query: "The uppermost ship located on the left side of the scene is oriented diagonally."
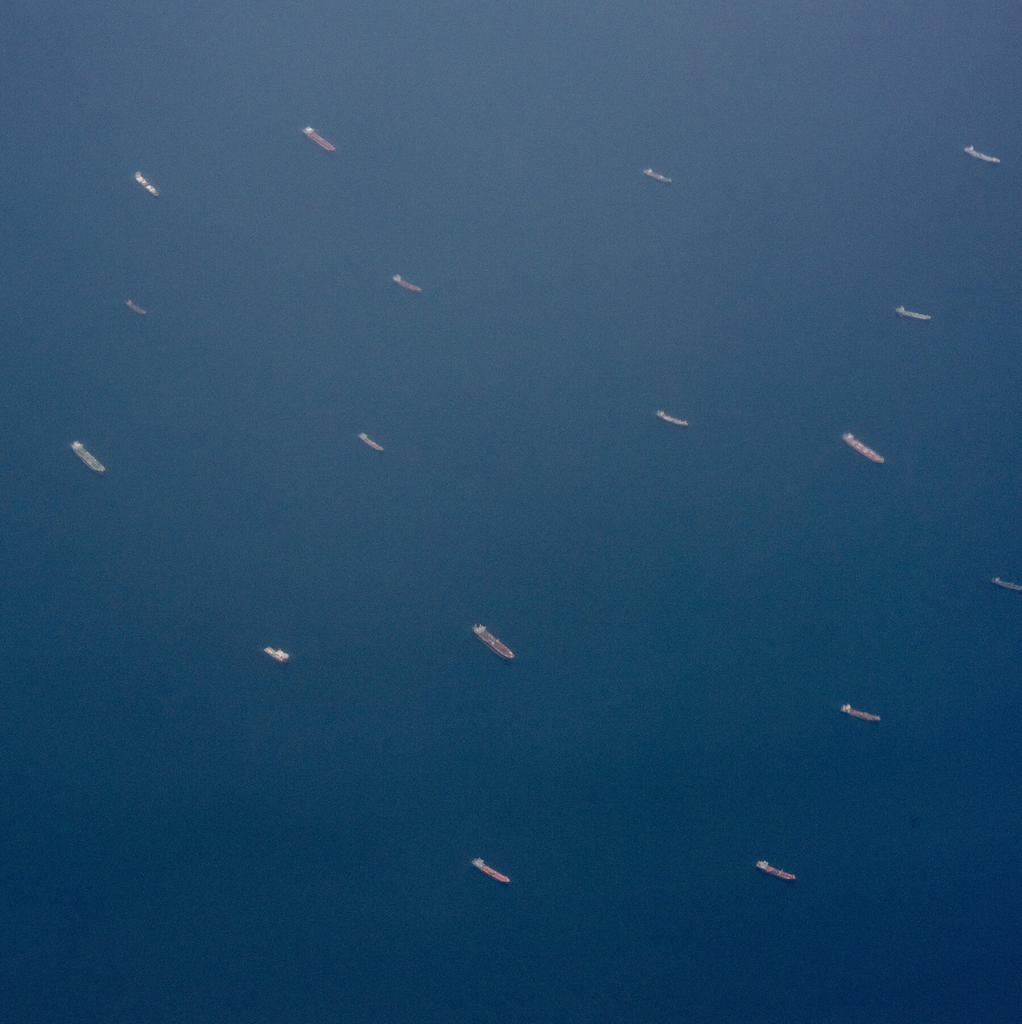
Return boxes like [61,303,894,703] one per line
[302,127,336,152]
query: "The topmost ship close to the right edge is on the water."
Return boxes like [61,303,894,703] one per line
[964,147,1000,164]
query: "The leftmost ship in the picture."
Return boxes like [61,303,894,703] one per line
[70,442,106,472]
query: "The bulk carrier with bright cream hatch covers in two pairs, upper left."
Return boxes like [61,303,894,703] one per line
[134,173,159,197]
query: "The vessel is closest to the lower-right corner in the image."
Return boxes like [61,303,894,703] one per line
[756,861,795,880]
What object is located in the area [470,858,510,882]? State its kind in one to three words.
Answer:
ship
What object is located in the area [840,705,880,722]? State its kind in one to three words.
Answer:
ship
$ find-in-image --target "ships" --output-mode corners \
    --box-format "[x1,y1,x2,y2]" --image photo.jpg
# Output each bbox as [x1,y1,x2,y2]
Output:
[642,169,672,183]
[124,300,146,314]
[470,858,510,882]
[70,442,106,472]
[264,649,289,660]
[991,577,1022,591]
[134,173,159,197]
[964,147,1000,164]
[841,434,885,464]
[656,412,688,426]
[302,127,336,152]
[756,861,795,880]
[472,626,515,658]
[895,307,931,320]
[392,275,421,292]
[840,705,880,722]
[357,433,383,451]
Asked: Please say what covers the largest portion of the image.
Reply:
water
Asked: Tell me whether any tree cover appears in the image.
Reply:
No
